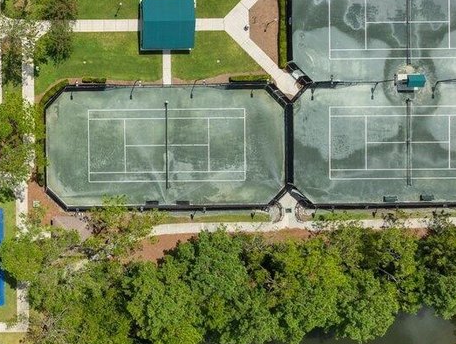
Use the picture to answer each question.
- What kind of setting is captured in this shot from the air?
sports ground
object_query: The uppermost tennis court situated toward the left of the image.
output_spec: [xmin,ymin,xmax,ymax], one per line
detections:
[44,83,286,206]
